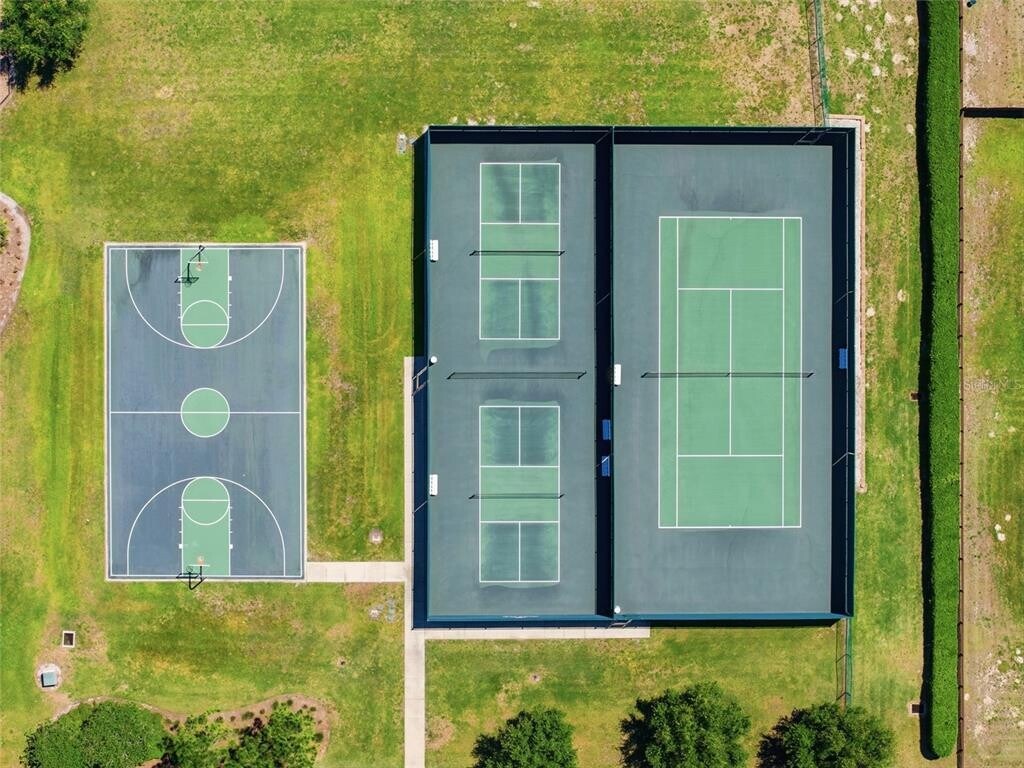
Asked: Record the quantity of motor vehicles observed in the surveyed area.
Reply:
zero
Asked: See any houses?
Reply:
No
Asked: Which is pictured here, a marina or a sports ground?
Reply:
sports ground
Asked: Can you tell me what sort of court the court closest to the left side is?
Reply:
basketball court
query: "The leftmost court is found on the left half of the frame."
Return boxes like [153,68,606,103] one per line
[104,242,307,582]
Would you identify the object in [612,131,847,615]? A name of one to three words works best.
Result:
tennis court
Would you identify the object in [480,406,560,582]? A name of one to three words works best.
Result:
sports court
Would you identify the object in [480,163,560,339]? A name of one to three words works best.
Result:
sports court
